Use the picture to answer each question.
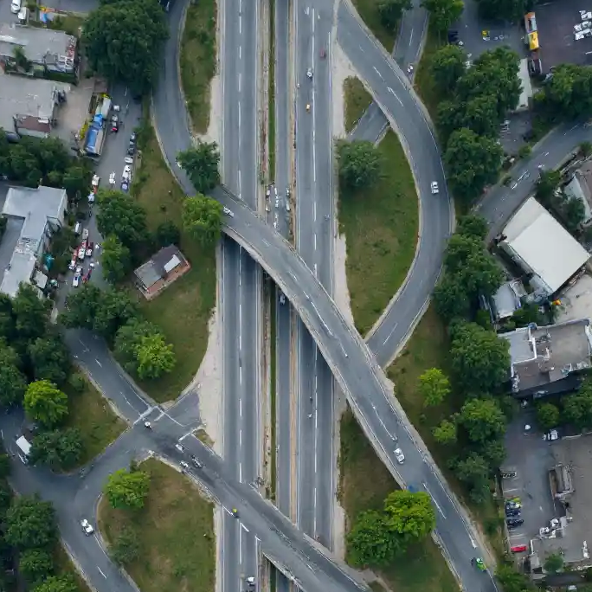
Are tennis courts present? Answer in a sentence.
No, no tennis court is visible in the view.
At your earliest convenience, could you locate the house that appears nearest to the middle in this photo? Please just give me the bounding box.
[135,245,192,298]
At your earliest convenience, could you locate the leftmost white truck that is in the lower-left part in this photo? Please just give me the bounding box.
[12,434,36,458]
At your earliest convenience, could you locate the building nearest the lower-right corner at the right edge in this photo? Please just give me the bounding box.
[528,434,592,569]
